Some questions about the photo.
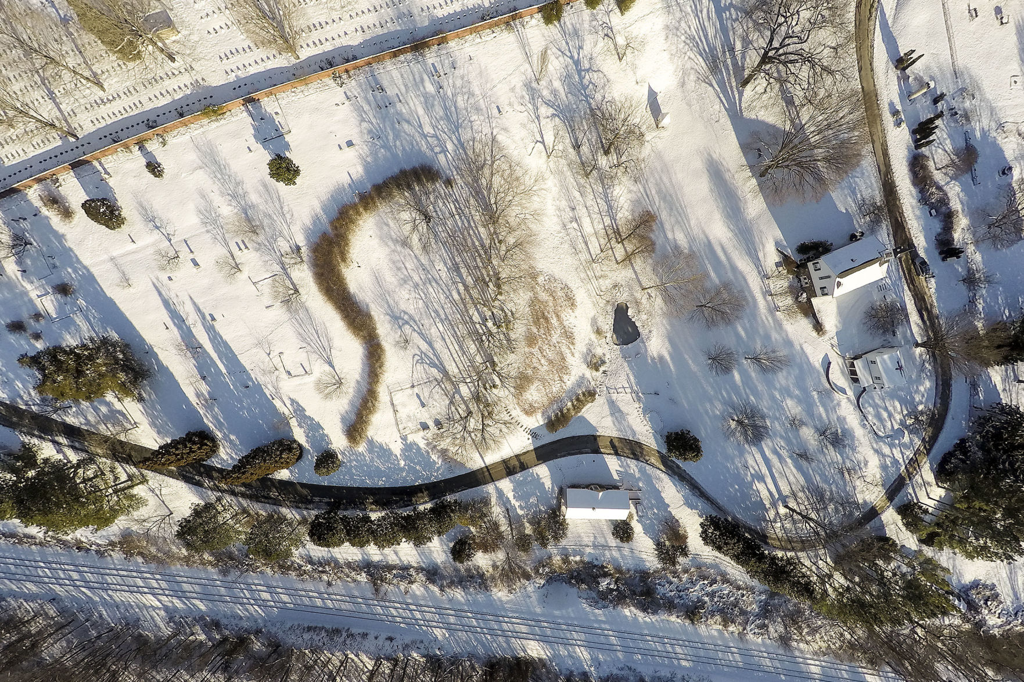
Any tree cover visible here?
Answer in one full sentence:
Yes, tree cover can be seen from above here.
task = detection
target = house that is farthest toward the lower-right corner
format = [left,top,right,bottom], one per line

[845,348,909,391]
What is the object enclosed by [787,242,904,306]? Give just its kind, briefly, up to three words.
building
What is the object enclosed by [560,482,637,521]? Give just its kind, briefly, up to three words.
house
